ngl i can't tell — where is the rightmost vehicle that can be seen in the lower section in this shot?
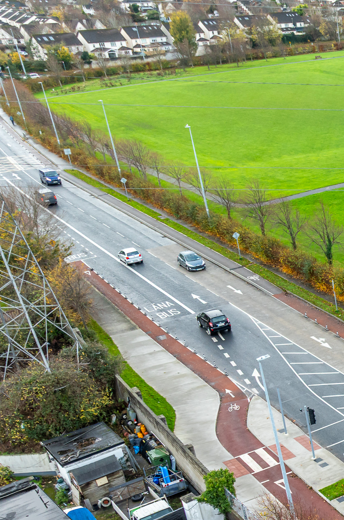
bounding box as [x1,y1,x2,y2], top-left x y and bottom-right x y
[194,308,232,336]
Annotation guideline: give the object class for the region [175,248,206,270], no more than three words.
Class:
car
